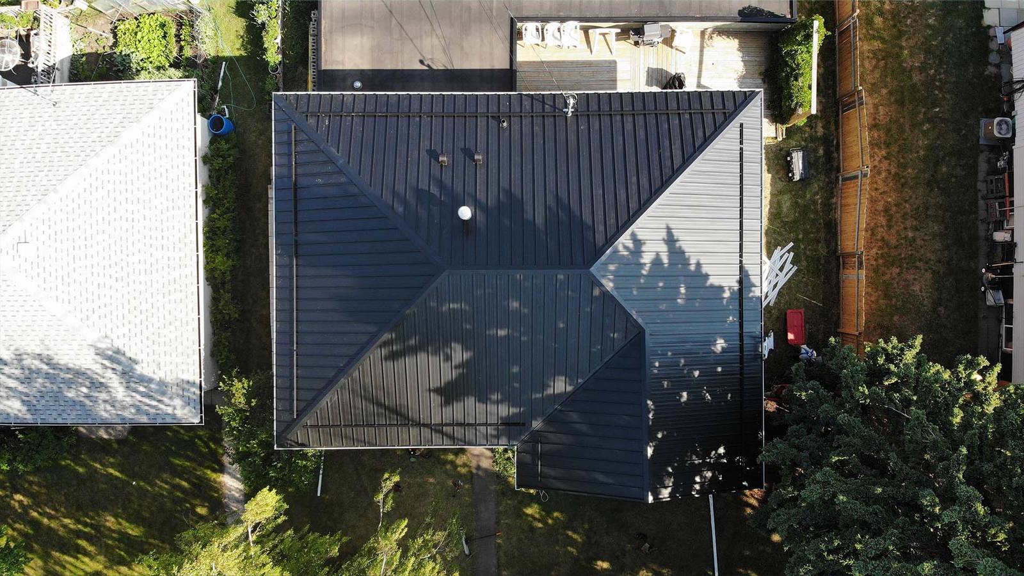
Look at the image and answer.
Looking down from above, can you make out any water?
No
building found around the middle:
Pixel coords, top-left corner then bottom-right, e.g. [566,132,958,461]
[271,88,769,504]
